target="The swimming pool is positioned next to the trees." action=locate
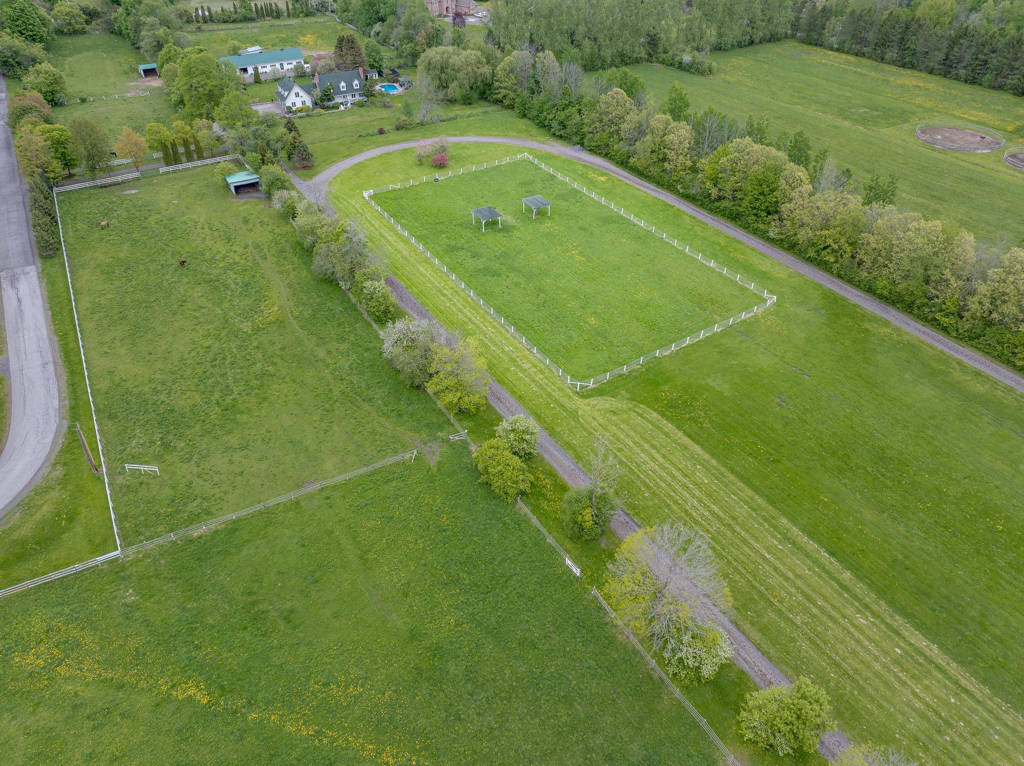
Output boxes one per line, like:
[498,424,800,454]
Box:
[374,82,413,95]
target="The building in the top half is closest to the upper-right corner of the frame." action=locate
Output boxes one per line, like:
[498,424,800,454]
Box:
[522,193,552,219]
